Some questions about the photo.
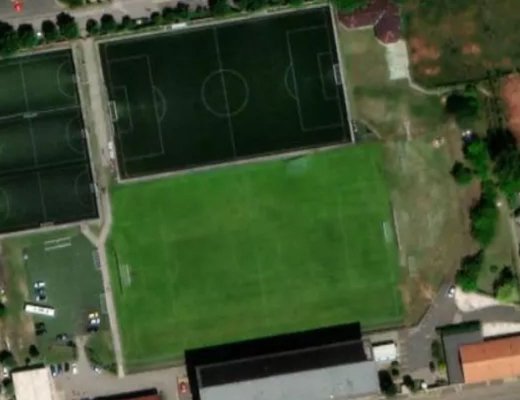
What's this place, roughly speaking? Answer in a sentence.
This looks like a sports ground.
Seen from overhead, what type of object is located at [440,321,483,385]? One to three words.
building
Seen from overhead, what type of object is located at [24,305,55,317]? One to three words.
vehicle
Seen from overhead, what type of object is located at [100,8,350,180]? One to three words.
soccer field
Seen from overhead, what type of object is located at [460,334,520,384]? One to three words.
building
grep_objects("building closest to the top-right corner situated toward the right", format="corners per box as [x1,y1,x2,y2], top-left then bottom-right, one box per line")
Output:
[339,0,403,44]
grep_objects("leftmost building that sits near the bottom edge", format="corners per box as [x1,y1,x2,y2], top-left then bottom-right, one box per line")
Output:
[13,366,56,400]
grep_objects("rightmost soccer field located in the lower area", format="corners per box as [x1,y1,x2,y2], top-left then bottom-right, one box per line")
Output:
[104,141,405,373]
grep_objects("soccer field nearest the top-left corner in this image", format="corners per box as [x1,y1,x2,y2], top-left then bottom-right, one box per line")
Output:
[0,48,81,120]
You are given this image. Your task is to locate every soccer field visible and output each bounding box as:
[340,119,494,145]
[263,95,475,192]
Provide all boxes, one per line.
[0,106,89,175]
[104,141,405,373]
[100,8,350,180]
[0,48,81,120]
[0,158,97,234]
